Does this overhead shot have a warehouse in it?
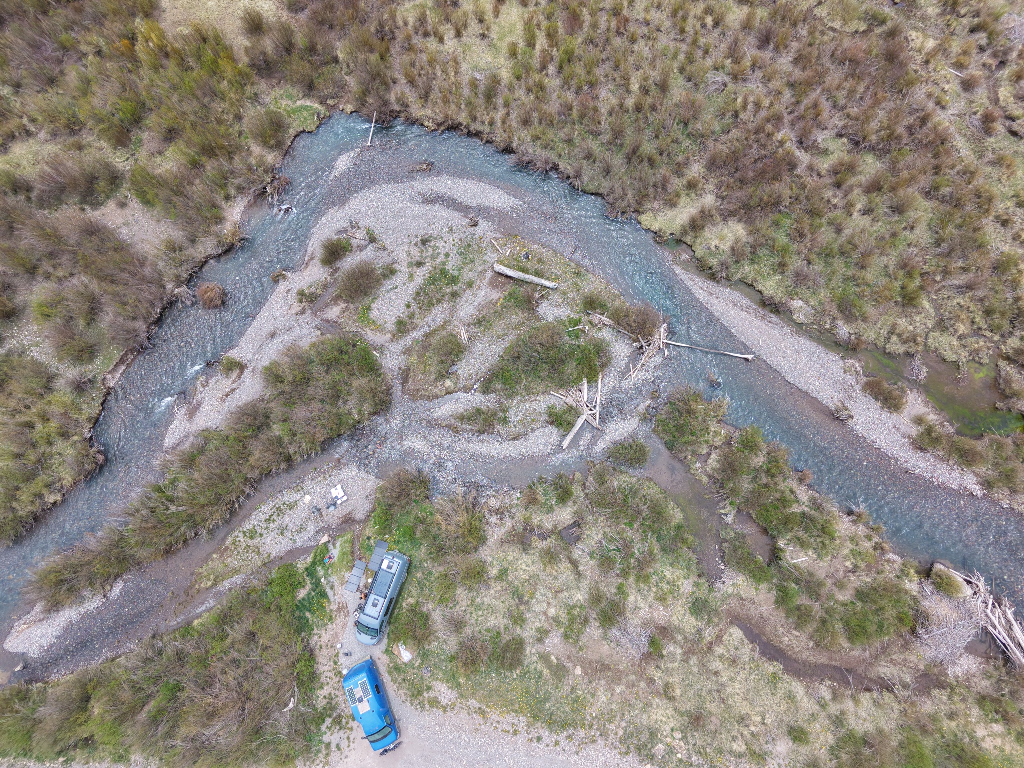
No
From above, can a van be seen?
Yes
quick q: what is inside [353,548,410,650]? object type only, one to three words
van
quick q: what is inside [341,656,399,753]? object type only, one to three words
vehicle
